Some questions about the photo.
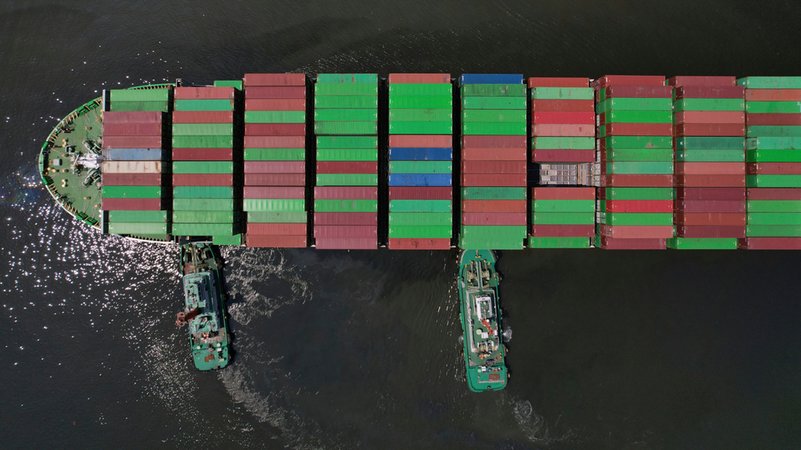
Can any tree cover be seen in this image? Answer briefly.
No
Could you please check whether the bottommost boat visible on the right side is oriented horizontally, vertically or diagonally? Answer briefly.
vertically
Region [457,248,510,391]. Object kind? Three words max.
boat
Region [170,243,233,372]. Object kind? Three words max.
boat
